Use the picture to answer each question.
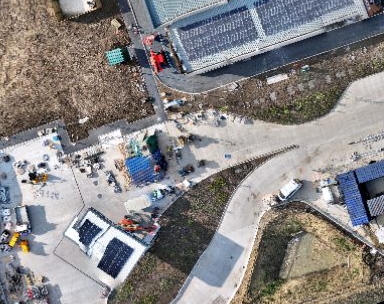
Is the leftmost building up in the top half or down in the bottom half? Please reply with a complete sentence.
The bottom half of the photo is where the leftmost building is.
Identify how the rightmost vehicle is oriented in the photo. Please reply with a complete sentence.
The rightmost vehicle is laid out diagonally.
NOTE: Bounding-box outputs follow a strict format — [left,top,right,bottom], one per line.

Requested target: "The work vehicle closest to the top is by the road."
[138,25,171,48]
